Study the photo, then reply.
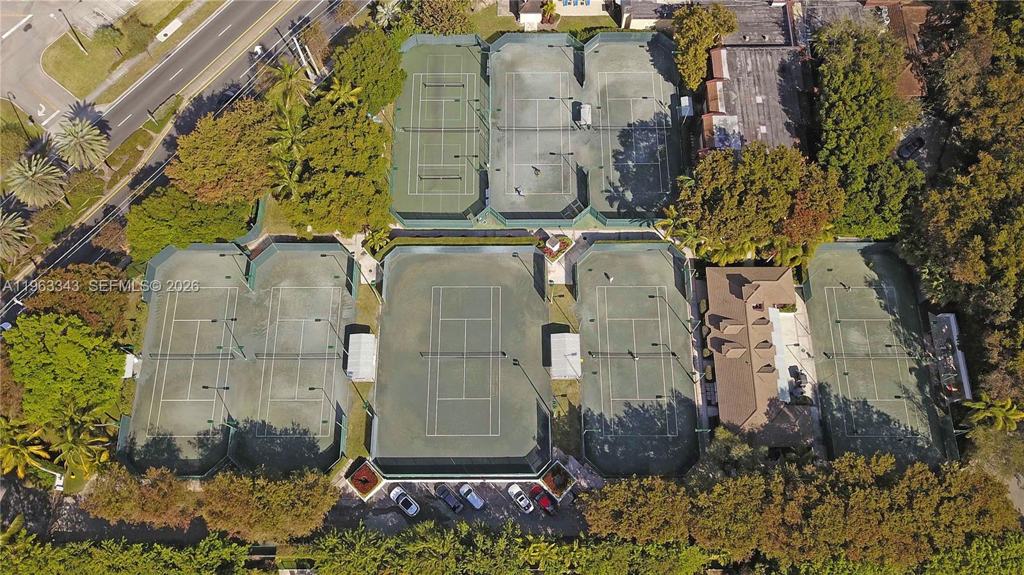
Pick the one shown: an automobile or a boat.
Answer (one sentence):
This aerial view contains an automobile.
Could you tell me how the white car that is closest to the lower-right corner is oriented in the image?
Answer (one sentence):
The white car that is closest to the lower-right corner is oriented diagonally.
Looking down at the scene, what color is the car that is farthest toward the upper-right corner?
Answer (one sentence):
In this view, the car that is farthest toward the upper-right corner is black.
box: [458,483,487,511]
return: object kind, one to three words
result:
car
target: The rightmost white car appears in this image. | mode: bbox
[505,482,535,515]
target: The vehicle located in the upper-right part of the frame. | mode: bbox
[898,137,924,159]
